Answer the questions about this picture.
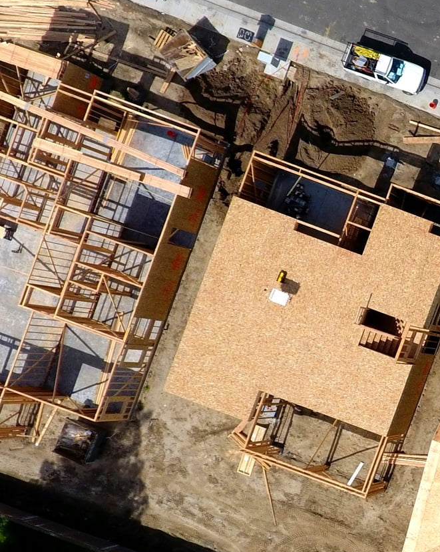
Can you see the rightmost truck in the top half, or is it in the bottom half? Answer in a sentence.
The top half of the photo is where the rightmost truck is.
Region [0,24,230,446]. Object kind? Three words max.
house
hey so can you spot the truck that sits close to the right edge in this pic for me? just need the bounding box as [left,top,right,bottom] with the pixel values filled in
[332,36,430,98]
